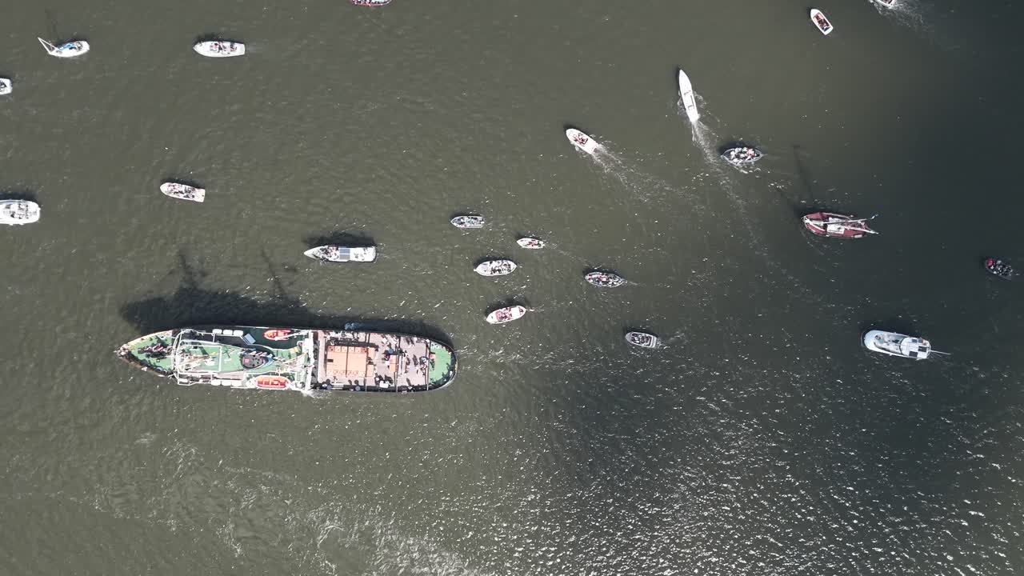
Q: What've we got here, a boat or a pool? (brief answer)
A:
boat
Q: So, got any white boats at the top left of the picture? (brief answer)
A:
Yes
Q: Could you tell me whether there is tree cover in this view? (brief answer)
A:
No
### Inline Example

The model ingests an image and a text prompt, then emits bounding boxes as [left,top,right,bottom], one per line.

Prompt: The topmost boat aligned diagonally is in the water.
[811,7,835,38]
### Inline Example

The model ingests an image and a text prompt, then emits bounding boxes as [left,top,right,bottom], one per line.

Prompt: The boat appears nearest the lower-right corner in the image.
[865,332,951,361]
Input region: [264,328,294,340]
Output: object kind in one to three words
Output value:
boat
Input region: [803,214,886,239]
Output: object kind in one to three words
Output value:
vessel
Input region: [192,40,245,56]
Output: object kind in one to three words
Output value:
boat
